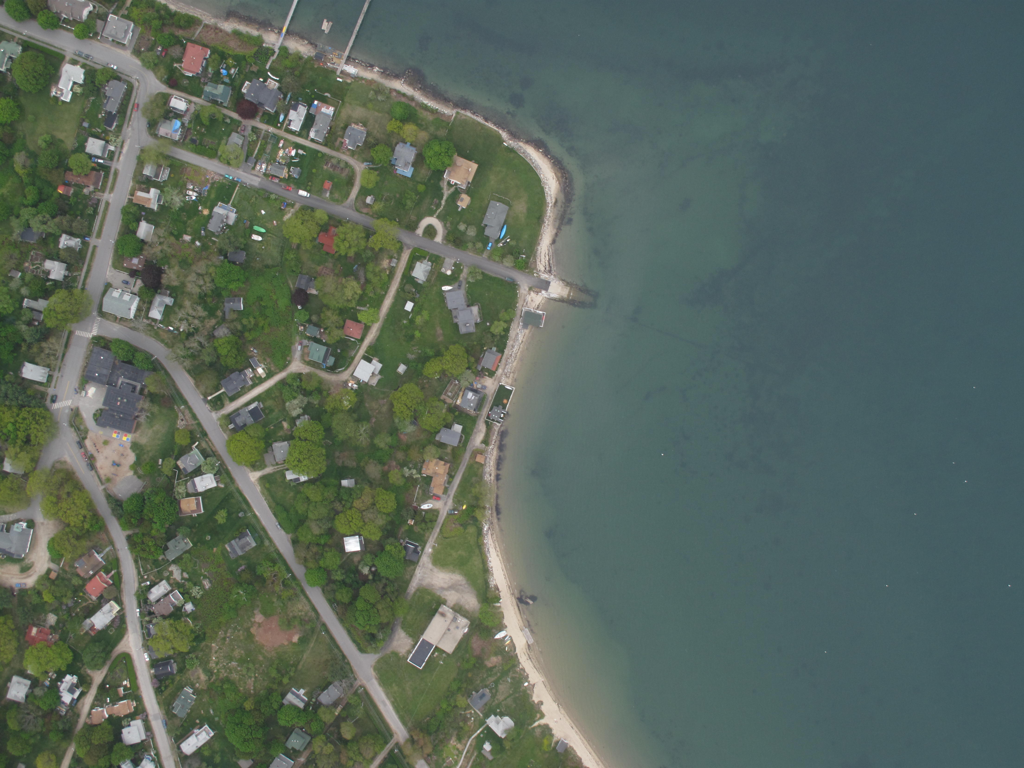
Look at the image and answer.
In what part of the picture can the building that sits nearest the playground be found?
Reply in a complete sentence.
The building that sits nearest the playground is located in the left region of the scene.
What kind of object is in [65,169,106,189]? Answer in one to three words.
house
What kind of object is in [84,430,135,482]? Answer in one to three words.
playground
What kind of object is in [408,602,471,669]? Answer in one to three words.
building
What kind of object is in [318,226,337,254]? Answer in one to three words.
house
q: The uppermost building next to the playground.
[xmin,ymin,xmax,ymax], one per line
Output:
[85,348,156,433]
